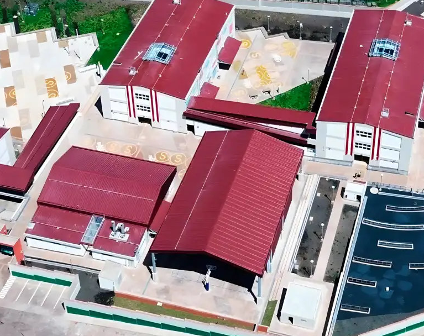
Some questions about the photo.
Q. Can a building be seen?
Yes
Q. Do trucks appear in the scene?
No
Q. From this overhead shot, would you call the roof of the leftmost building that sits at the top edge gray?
No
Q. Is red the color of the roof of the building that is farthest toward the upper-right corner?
Yes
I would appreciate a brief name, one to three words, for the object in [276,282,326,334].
shed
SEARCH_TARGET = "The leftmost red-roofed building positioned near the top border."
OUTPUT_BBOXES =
[97,0,242,131]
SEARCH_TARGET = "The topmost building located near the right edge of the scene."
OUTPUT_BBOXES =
[314,9,424,175]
